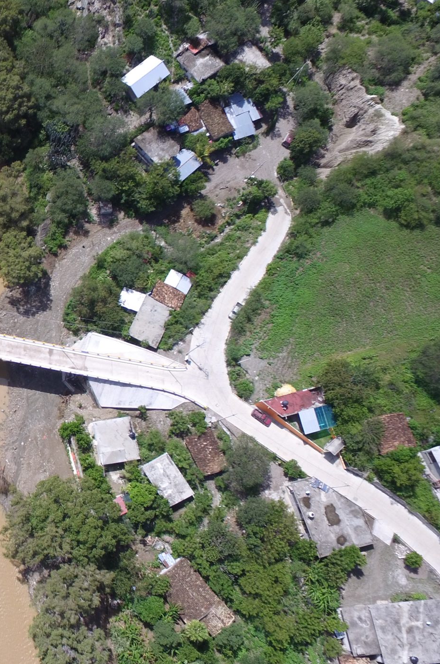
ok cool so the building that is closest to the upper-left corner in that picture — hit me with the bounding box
[119,56,169,107]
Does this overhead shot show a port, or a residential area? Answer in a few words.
residential area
